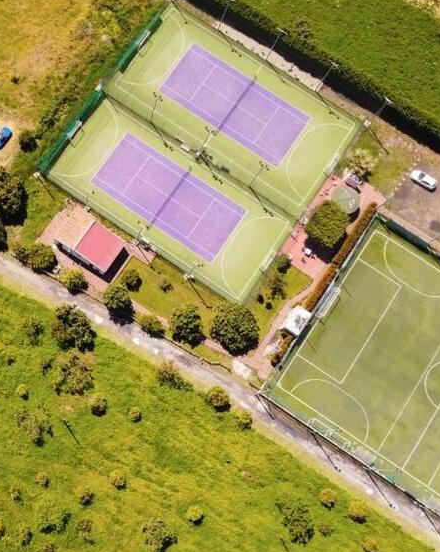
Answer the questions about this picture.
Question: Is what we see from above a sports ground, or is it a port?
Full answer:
It's a sports ground.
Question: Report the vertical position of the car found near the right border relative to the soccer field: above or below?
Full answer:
It's above the soccer field that the car found near the right border shows up.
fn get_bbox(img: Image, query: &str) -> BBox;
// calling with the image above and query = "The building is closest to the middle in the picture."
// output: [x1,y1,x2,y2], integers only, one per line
[280,305,313,337]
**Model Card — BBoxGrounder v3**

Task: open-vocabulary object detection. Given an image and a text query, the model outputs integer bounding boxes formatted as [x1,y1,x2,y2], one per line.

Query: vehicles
[409,171,439,191]
[0,126,11,150]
